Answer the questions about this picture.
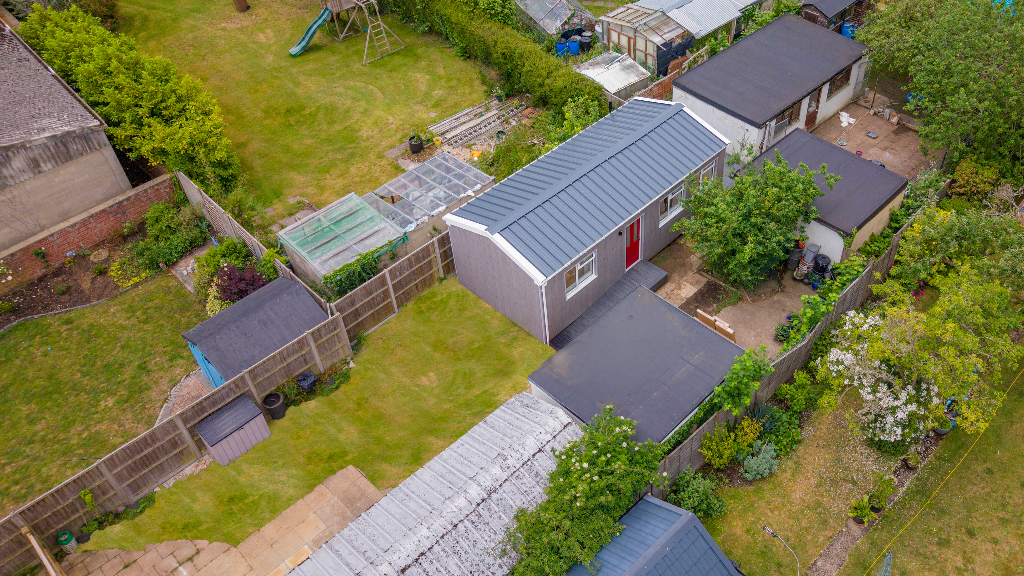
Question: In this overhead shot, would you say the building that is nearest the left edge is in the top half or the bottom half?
top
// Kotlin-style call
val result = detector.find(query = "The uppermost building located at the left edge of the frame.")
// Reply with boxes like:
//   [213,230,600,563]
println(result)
[0,32,134,249]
